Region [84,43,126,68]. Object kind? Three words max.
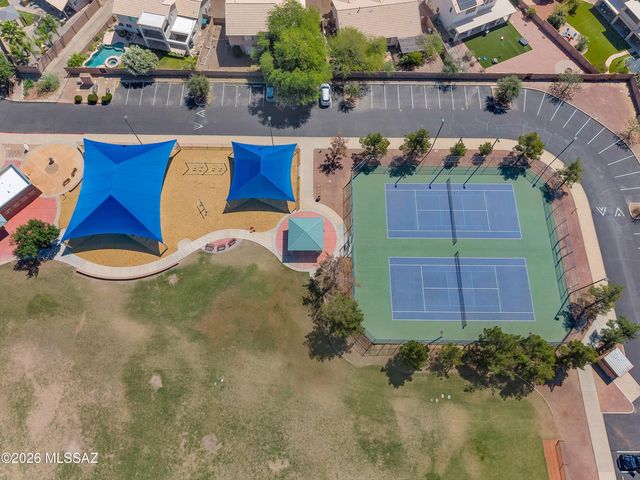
swimming pool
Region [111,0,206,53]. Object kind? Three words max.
house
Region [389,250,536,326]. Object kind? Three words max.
tennis court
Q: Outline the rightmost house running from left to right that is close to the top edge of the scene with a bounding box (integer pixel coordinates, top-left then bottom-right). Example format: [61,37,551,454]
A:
[417,0,518,43]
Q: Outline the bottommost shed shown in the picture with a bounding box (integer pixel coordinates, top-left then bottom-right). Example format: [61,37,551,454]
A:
[595,348,633,378]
